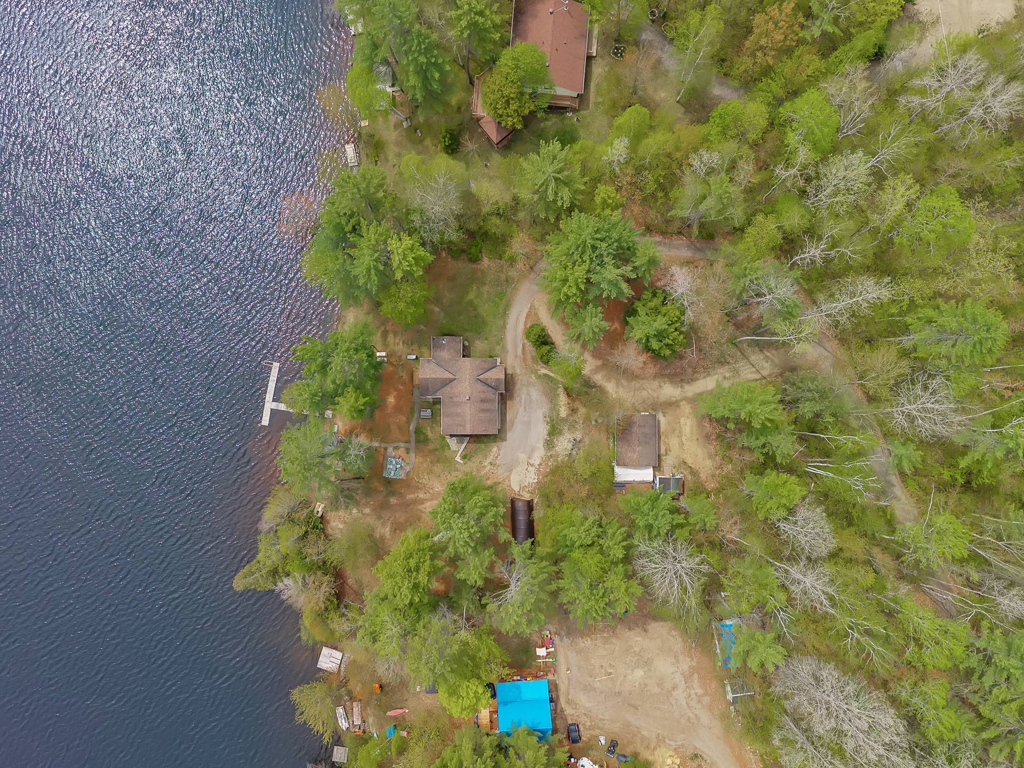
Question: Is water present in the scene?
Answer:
Yes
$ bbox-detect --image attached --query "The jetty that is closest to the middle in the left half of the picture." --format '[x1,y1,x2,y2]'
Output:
[261,362,307,425]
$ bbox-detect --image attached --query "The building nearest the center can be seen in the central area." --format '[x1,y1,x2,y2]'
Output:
[412,336,505,440]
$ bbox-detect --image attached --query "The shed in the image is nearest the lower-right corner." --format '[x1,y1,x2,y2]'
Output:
[656,476,684,494]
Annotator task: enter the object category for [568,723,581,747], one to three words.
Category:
vehicle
